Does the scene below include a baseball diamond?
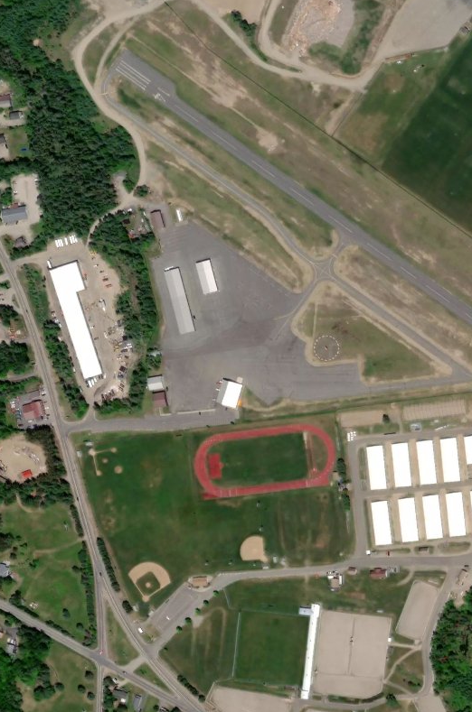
Yes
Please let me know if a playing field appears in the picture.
Yes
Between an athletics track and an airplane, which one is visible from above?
athletics track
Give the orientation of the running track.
from side to side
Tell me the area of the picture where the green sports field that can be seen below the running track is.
bottom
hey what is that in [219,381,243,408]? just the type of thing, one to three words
building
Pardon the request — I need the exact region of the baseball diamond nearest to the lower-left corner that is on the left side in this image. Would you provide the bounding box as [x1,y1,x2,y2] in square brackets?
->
[129,562,171,603]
